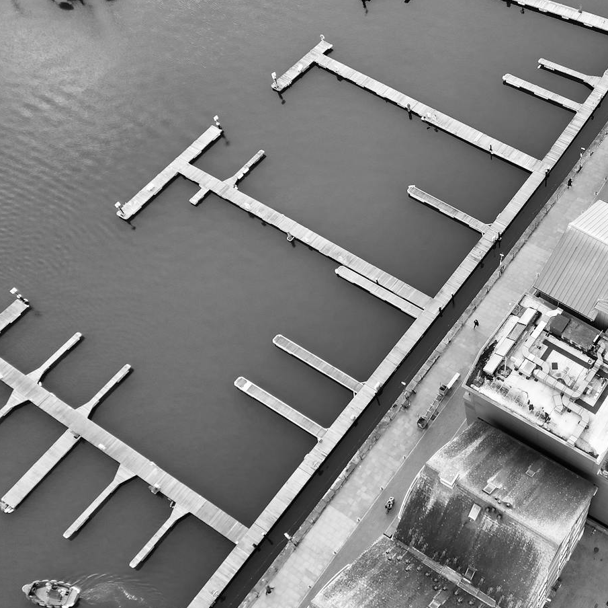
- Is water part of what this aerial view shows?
Yes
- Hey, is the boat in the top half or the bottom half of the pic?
bottom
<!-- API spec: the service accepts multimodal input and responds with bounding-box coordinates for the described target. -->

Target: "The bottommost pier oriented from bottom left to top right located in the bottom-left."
[131,505,191,568]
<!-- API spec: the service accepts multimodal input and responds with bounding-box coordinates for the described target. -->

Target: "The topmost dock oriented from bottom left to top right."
[272,41,333,93]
